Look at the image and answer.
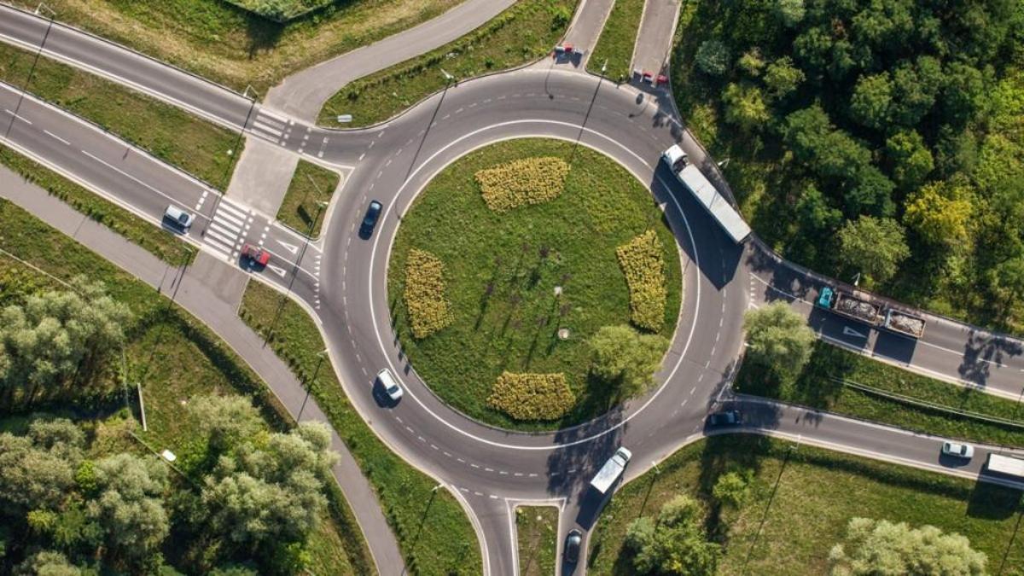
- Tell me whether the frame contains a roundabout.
Yes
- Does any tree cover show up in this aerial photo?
Yes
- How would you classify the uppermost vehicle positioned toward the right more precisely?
truck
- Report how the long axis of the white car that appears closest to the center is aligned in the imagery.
diagonally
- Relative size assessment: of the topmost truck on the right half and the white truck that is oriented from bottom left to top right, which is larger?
the topmost truck on the right half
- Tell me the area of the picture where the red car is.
left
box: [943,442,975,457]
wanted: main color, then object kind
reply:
white car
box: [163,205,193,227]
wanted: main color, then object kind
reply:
white car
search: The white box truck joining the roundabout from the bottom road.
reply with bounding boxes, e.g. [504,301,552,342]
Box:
[591,447,631,493]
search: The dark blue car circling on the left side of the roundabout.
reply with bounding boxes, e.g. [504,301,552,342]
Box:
[361,200,380,233]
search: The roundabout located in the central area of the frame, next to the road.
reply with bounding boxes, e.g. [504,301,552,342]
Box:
[323,63,746,498]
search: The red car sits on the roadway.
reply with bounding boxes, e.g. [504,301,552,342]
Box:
[241,245,271,265]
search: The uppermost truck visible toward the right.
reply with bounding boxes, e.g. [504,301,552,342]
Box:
[665,146,752,244]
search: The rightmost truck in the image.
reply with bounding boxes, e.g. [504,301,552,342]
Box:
[982,453,1024,477]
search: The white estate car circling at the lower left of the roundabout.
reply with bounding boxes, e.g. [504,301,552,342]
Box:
[377,369,402,399]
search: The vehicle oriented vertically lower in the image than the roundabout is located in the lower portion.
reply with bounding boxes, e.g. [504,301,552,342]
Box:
[565,529,581,562]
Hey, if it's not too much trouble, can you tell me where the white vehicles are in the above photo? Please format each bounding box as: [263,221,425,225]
[377,369,402,399]
[665,146,752,244]
[591,447,631,493]
[982,453,1024,477]
[163,205,193,227]
[943,442,975,457]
